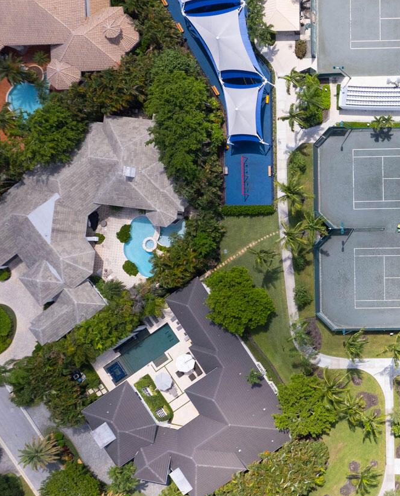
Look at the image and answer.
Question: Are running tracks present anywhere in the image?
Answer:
No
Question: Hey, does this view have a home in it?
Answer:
Yes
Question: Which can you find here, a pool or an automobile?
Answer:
pool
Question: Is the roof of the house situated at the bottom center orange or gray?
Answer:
gray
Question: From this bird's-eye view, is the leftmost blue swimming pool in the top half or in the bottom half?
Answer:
top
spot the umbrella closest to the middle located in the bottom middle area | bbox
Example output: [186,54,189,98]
[177,353,197,371]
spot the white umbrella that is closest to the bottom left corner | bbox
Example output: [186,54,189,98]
[156,372,174,389]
